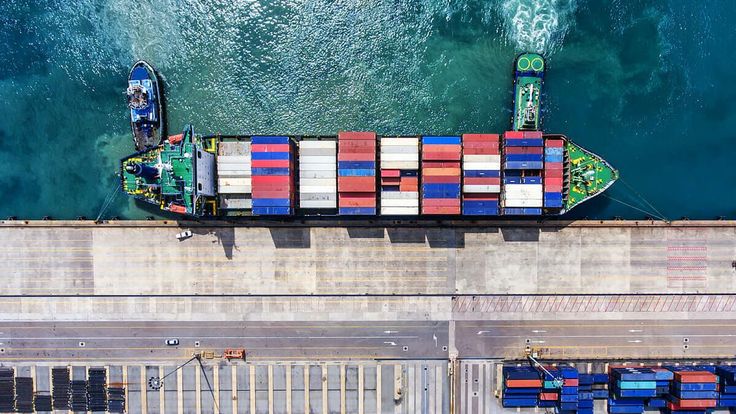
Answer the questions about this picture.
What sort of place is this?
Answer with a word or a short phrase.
port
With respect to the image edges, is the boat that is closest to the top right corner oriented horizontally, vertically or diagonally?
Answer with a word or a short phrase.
vertically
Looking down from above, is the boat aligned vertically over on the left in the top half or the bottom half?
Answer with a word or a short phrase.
top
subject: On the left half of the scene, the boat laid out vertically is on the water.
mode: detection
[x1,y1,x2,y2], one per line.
[126,60,166,150]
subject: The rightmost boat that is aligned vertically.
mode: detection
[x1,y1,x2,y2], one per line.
[511,50,548,130]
